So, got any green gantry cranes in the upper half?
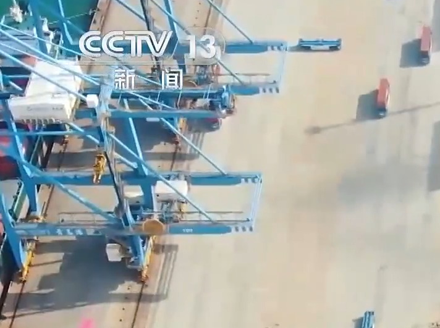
No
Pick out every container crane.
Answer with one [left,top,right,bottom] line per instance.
[21,0,286,147]
[0,24,259,291]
